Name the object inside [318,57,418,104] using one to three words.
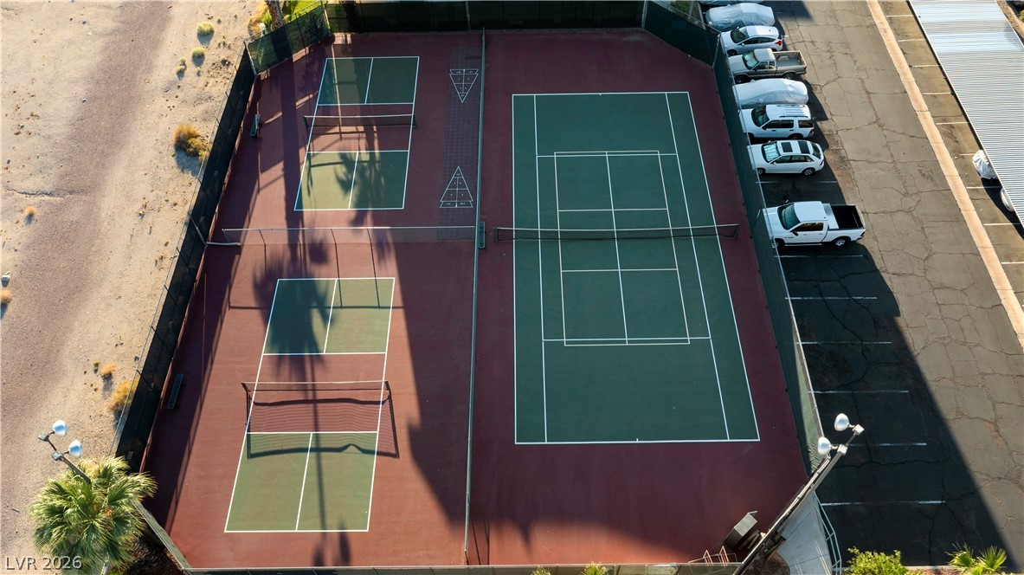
sports court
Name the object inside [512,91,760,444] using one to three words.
tennis court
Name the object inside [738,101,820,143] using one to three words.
car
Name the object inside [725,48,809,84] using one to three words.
truck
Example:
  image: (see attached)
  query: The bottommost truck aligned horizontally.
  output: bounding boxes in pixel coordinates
[762,201,865,246]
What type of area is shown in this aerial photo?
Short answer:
sports ground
